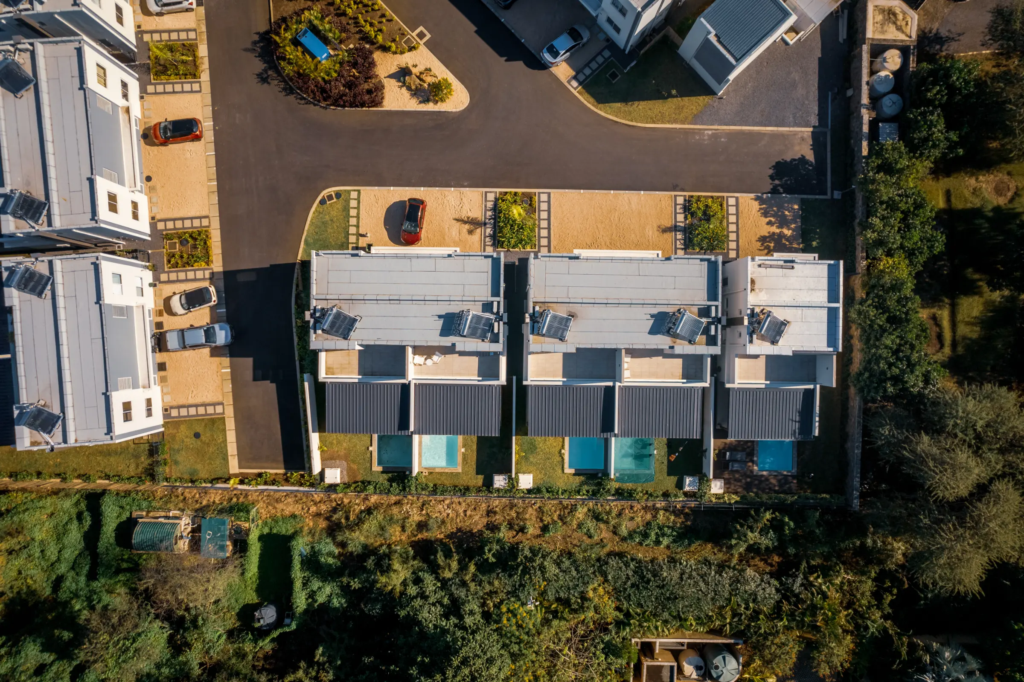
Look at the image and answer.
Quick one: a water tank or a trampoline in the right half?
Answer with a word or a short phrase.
water tank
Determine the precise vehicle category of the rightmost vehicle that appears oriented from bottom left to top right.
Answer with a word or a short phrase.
car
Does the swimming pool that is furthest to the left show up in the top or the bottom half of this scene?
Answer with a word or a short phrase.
bottom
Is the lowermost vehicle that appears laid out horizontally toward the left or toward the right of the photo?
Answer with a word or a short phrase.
left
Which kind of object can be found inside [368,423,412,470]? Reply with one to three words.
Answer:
swimming pool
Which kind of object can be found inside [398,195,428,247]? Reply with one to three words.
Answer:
car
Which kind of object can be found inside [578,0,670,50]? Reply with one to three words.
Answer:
house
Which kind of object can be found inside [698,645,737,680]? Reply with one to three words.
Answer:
water tank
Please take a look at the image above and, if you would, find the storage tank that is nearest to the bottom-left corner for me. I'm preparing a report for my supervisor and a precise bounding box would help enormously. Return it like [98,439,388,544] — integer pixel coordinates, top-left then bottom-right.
[129,515,186,553]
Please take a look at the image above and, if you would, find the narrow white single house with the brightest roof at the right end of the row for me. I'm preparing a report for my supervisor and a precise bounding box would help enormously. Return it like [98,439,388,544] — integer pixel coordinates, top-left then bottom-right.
[716,253,848,441]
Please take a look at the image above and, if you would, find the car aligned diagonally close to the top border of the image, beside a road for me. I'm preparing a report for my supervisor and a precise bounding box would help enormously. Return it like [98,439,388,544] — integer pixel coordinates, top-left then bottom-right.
[538,21,593,71]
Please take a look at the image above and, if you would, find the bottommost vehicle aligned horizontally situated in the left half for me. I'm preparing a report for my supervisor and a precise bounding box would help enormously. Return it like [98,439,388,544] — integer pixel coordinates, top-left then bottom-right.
[166,322,234,351]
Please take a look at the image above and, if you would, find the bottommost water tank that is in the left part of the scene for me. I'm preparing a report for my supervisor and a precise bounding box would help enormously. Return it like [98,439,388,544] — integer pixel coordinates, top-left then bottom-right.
[256,597,286,624]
